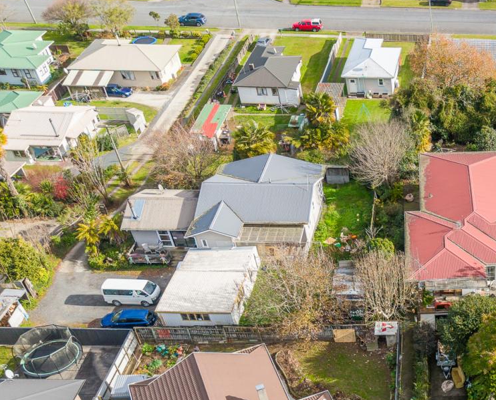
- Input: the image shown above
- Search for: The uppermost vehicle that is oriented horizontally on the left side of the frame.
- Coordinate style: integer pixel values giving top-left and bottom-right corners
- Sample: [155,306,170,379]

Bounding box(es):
[179,14,208,28]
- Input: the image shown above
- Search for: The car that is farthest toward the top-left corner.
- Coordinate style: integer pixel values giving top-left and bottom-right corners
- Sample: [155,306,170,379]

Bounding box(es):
[100,84,136,100]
